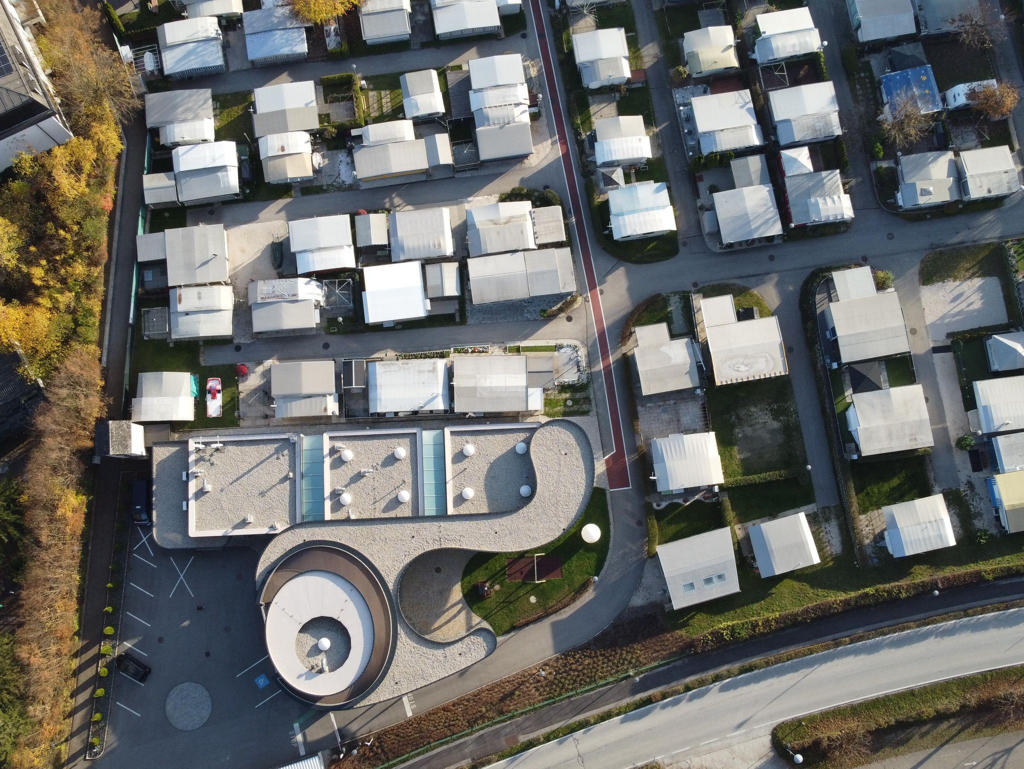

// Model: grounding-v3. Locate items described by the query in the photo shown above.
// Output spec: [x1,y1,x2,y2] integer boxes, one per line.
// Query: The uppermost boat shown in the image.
[144,52,158,74]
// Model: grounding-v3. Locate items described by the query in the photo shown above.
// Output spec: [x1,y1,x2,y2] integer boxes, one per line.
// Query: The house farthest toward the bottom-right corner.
[655,526,740,610]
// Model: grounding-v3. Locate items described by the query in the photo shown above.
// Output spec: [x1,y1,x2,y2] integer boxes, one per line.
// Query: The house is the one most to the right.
[823,267,911,363]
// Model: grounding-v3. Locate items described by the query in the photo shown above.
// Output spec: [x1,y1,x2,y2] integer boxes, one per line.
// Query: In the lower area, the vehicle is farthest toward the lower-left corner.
[112,651,155,684]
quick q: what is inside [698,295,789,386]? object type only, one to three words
house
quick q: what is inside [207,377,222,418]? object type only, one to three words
boat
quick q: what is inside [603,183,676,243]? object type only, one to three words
camper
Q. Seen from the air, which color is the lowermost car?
black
